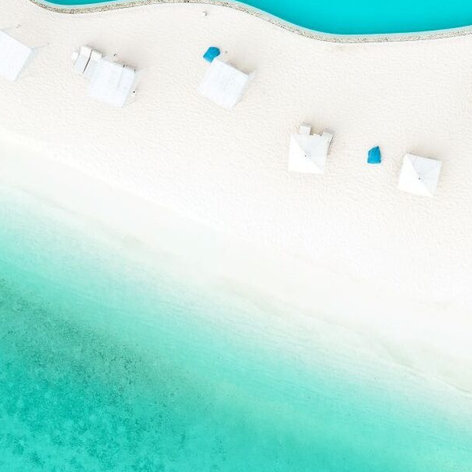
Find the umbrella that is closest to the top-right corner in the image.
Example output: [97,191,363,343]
[397,153,442,198]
